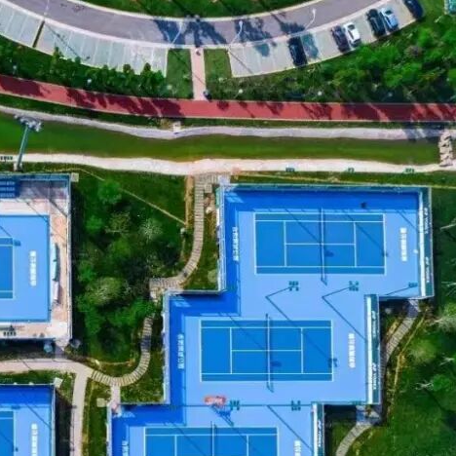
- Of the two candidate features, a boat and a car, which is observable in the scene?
car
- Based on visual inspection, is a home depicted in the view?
No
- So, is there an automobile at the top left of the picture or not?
No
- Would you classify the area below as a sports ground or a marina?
sports ground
